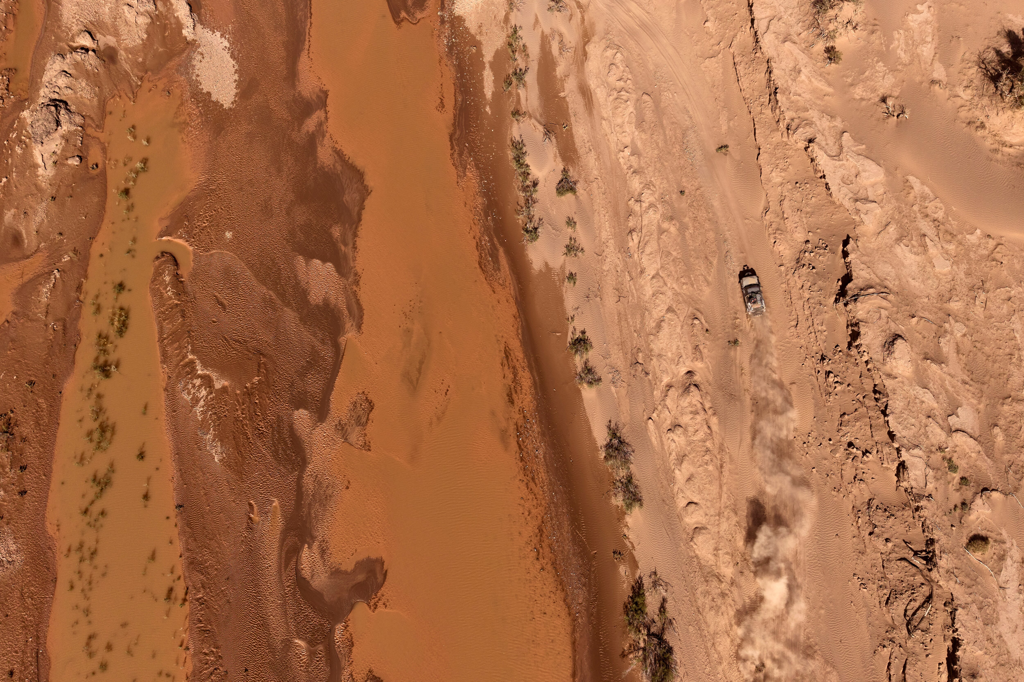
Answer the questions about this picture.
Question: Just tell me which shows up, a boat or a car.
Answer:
car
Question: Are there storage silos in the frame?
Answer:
No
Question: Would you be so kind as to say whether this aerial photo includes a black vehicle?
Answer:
No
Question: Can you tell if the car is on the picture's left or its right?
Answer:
right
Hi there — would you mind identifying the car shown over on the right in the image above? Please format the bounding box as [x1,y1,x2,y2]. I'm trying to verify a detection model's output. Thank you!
[738,274,765,318]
